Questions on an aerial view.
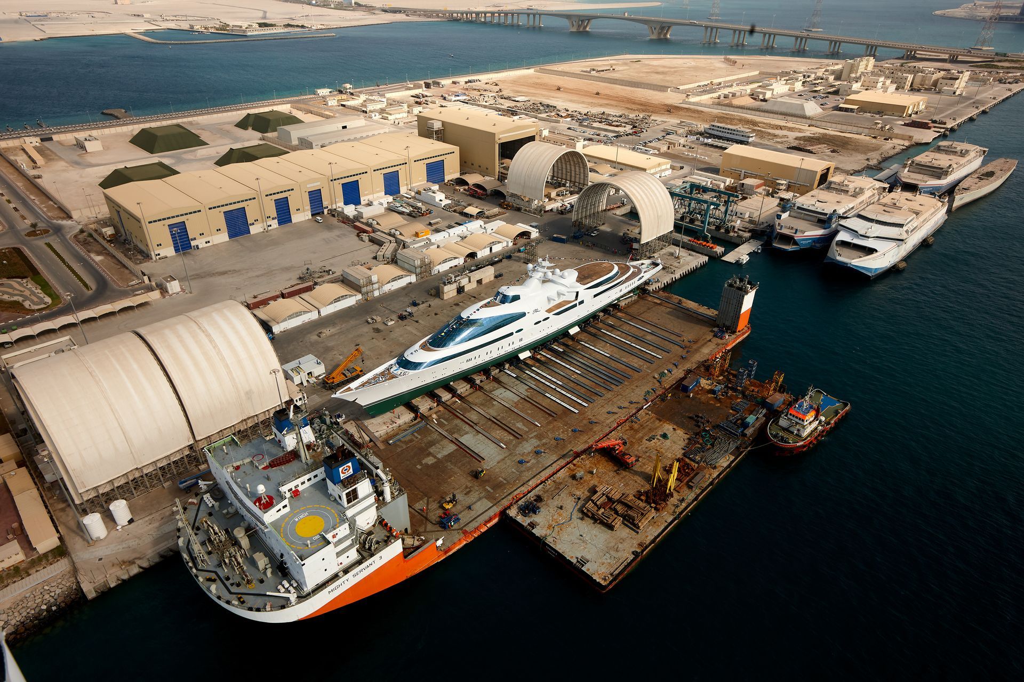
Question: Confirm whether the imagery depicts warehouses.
Yes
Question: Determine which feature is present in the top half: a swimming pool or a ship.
ship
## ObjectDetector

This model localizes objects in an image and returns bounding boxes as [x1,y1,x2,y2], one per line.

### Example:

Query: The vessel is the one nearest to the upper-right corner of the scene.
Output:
[904,138,982,191]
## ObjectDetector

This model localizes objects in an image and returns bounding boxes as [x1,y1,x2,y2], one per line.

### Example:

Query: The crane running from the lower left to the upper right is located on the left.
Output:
[324,342,370,390]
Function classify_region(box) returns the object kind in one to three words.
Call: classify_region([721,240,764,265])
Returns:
pier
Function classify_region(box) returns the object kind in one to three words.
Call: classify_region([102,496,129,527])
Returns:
water tank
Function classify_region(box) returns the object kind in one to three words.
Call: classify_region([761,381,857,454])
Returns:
boat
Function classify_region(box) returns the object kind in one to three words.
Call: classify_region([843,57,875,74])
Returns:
building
